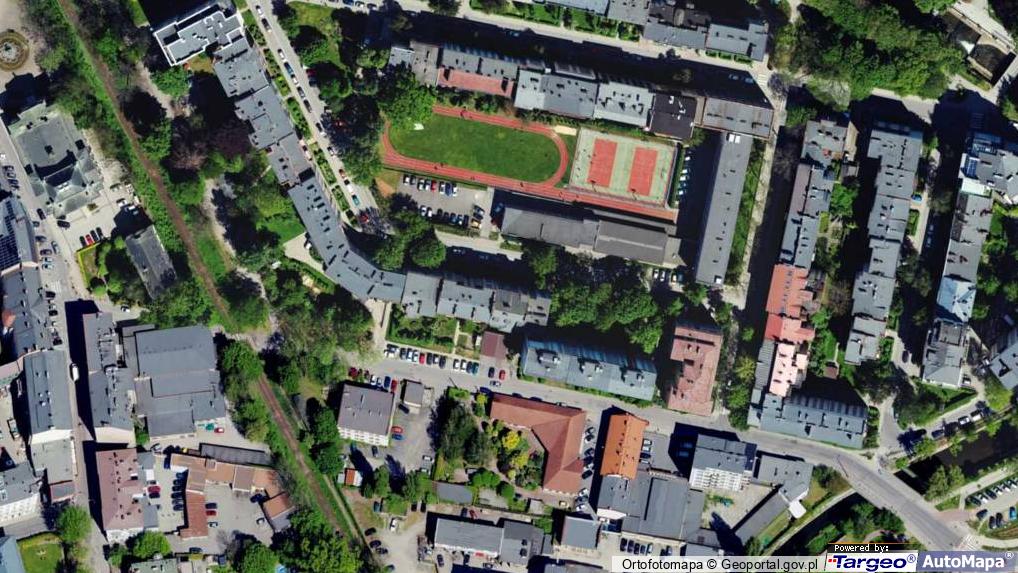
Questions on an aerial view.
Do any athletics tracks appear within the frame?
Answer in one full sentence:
Yes, the image includes an athletics track.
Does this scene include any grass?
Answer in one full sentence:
Yes, grass shows up in the scene.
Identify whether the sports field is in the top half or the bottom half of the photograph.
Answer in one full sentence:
You can find the sports field in the top half.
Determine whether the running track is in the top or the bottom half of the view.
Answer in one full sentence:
The running track sits in the top half of the picture.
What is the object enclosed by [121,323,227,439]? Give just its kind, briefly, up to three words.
building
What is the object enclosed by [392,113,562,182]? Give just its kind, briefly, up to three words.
sports field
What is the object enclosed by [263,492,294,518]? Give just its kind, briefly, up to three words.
shed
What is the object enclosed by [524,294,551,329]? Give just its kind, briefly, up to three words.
house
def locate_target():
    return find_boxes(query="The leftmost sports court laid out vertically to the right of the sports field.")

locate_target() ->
[588,139,617,187]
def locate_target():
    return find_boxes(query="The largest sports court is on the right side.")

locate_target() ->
[571,129,677,203]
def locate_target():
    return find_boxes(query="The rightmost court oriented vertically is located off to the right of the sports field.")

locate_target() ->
[628,147,658,196]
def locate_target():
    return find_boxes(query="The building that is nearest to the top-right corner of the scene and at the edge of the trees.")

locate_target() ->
[942,5,1016,87]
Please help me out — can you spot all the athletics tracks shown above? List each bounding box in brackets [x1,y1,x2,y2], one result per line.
[383,104,678,222]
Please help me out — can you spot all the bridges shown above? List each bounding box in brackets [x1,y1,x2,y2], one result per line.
[848,449,1011,573]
